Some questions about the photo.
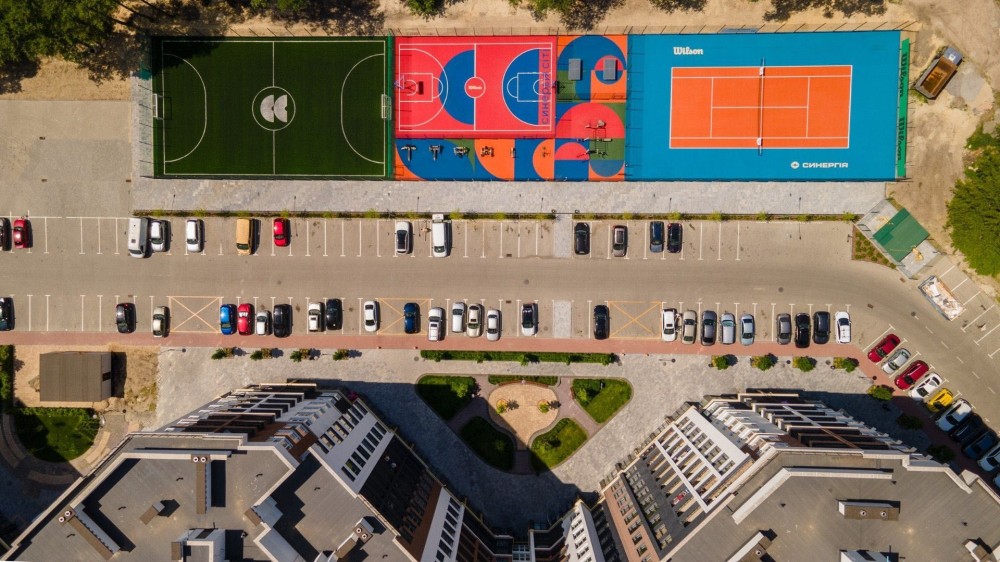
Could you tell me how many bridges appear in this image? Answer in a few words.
0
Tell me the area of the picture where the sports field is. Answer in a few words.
top left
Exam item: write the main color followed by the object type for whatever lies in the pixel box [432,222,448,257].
white vehicle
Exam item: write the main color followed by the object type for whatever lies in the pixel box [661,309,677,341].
white car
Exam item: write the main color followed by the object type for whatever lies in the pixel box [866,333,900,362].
red car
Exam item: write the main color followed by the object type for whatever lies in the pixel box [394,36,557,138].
red basketball court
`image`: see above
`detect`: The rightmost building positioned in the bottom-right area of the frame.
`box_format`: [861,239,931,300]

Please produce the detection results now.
[588,389,1000,562]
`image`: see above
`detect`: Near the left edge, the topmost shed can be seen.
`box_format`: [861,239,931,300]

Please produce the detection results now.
[40,352,111,401]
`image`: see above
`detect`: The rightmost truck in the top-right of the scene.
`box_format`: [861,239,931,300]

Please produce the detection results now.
[913,48,963,98]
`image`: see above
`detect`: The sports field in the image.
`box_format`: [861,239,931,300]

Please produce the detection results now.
[152,36,392,180]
